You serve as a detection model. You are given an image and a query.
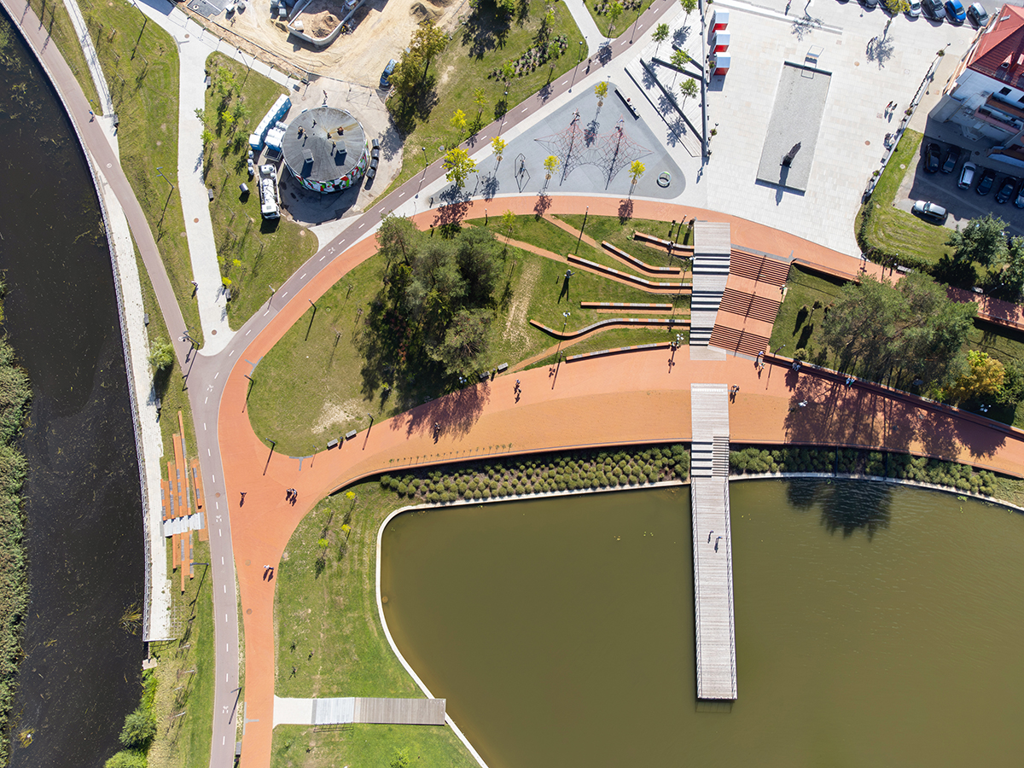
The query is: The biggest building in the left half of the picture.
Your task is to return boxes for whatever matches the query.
[278,103,369,195]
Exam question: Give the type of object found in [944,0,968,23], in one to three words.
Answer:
car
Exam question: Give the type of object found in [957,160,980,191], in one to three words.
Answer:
car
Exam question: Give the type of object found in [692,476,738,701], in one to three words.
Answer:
pier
